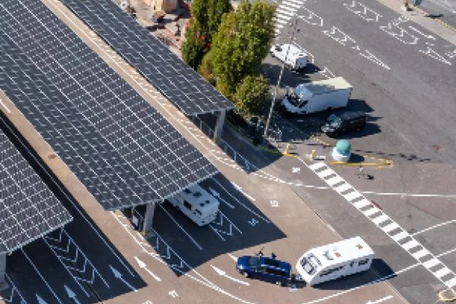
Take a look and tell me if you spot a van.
Yes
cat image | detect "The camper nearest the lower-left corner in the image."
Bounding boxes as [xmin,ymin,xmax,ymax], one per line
[162,184,220,230]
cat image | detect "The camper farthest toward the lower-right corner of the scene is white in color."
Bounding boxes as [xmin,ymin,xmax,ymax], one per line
[298,231,380,276]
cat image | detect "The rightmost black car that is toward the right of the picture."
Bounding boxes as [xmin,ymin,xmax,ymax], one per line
[326,113,367,138]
